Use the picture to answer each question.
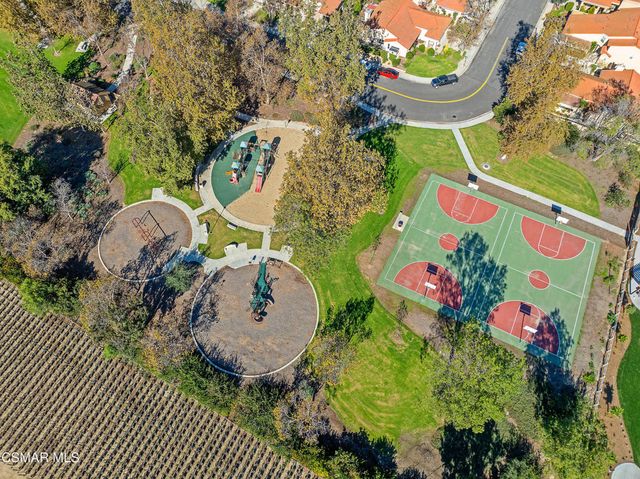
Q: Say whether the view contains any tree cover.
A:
Yes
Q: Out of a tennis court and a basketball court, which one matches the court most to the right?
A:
basketball court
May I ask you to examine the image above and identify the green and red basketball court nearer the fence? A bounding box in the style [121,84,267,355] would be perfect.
[470,206,601,372]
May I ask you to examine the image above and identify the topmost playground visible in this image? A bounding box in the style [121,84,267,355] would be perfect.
[211,127,332,224]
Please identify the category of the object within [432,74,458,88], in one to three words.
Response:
vehicle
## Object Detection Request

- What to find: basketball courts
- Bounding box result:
[470,206,601,372]
[378,174,512,326]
